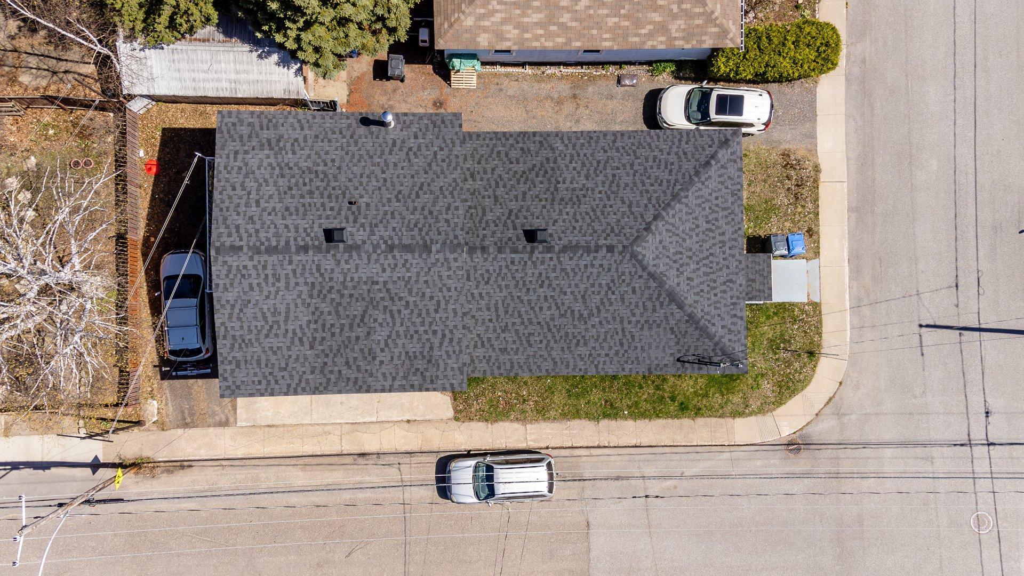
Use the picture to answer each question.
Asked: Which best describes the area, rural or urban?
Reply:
urban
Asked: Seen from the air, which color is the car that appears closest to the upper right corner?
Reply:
white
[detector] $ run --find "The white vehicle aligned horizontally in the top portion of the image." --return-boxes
[656,79,773,138]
